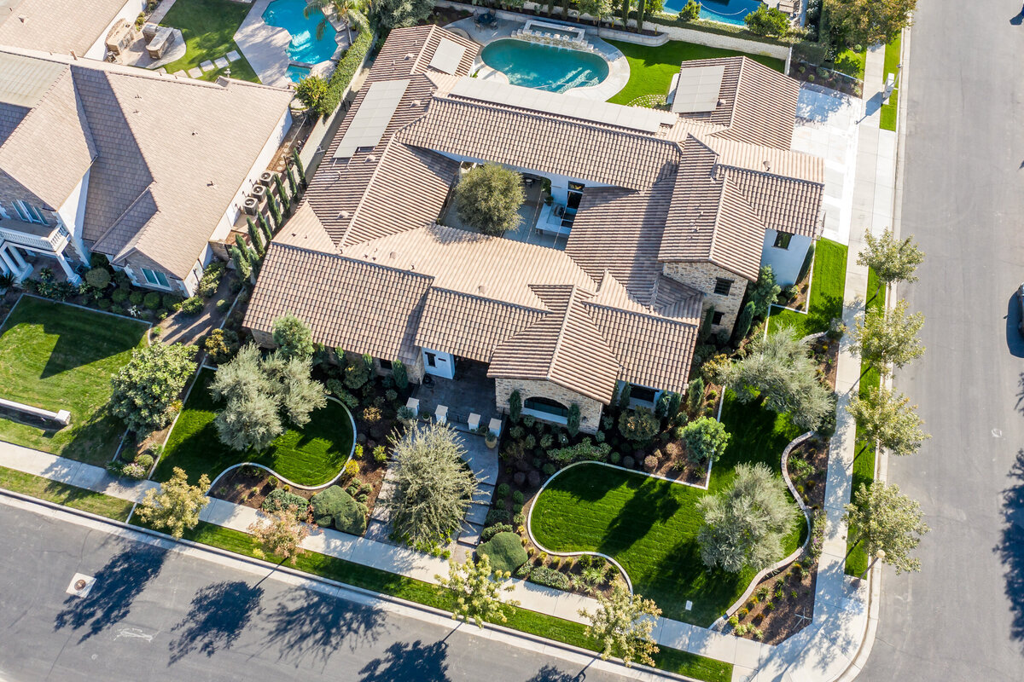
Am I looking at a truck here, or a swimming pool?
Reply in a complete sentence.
The image shows a swimming pool.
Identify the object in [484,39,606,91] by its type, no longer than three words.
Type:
swimming pool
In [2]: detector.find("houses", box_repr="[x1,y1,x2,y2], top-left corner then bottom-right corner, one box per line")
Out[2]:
[241,22,826,434]
[0,0,296,300]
